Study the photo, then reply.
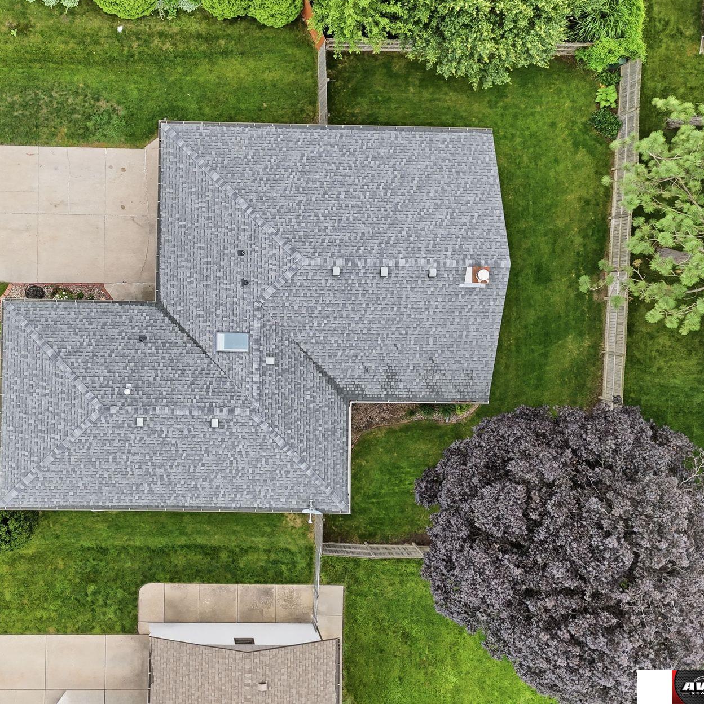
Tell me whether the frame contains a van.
No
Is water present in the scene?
No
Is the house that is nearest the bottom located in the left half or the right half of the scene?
left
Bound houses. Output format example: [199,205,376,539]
[147,622,340,704]
[0,117,511,516]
